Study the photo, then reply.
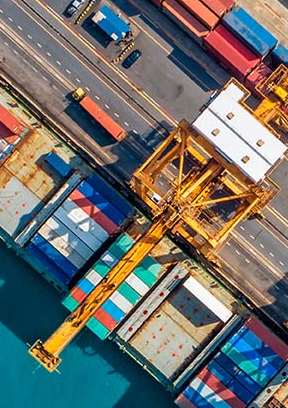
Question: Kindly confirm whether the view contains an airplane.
No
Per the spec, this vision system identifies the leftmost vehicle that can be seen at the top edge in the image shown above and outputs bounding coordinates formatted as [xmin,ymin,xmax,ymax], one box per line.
[67,0,89,16]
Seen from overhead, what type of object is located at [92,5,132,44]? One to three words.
shed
